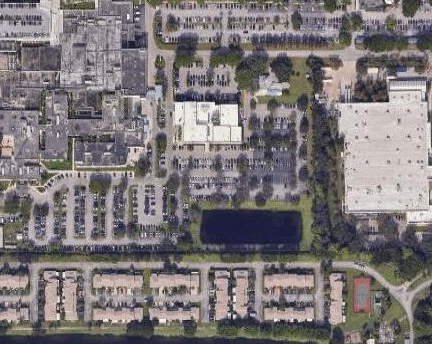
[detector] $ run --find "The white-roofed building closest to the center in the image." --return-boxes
[174,101,241,144]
